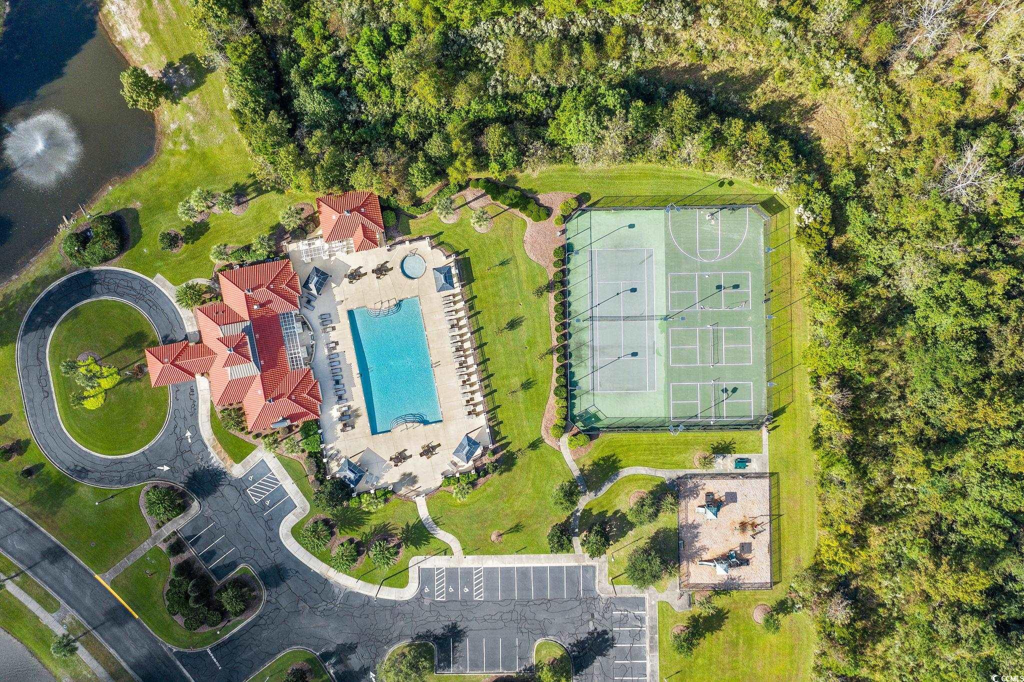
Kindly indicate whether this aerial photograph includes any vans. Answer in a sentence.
No, there appears to be no van in this shot.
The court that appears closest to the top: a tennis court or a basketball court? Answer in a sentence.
It looks like the court that appears closest to the top is a basketball court.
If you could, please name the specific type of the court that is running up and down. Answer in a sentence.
Specifically, the court that is running up and down is a tennis court.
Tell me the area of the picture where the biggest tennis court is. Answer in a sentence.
Look in the center portion of the view to spot the biggest tennis court.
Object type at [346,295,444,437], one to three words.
swimming pool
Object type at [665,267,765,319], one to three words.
sports court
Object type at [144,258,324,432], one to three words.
building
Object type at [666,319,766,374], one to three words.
sports court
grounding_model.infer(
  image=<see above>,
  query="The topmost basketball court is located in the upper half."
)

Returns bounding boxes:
[665,208,765,267]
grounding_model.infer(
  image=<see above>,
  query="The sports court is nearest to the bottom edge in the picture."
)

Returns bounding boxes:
[666,374,766,430]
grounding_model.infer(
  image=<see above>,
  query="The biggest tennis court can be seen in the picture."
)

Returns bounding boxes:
[567,208,666,430]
